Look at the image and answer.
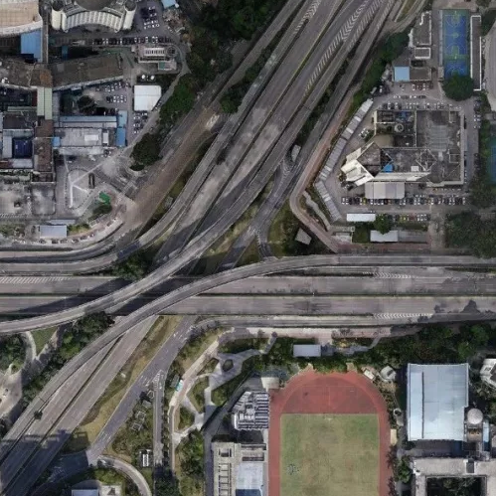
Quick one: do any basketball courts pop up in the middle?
No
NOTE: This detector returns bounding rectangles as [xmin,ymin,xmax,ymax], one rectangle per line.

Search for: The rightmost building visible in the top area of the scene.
[469,15,481,91]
